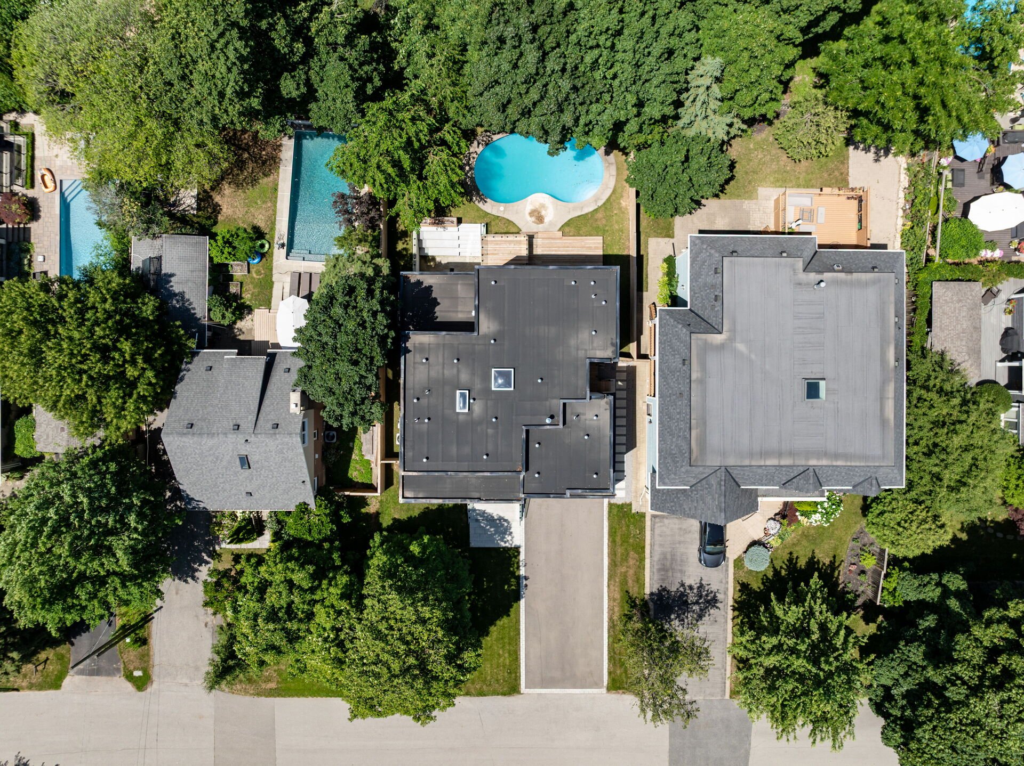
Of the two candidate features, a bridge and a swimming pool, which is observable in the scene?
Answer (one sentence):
This aerial view contains a swimming pool.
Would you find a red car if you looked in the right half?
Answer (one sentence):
No, I can find no red car in the right half.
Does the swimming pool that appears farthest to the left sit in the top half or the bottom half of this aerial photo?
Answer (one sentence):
It is in the top half that the swimming pool that appears farthest to the left appears.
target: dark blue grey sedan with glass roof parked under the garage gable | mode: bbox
[697,519,729,567]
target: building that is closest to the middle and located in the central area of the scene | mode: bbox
[400,266,619,504]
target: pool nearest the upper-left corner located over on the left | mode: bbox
[58,177,120,292]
